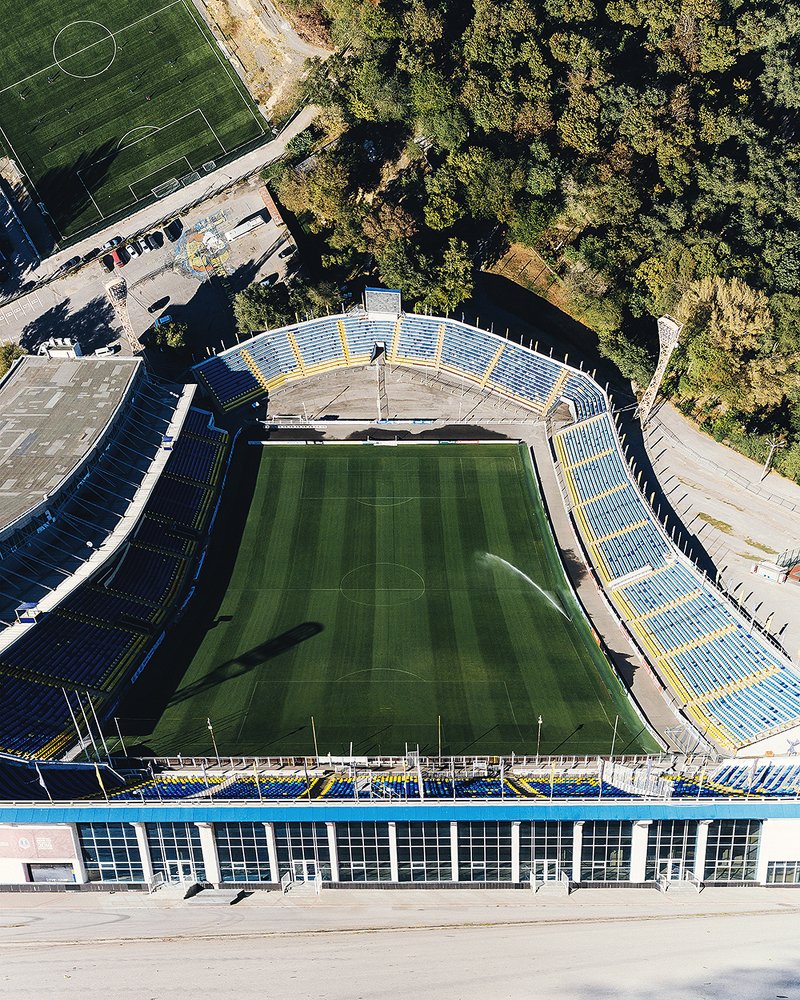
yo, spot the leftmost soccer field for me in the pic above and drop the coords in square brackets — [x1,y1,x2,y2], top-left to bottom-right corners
[0,0,279,253]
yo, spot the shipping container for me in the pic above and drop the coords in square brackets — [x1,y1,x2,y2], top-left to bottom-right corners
[254,180,287,226]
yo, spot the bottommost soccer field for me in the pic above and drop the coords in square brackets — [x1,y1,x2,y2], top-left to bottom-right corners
[97,449,661,755]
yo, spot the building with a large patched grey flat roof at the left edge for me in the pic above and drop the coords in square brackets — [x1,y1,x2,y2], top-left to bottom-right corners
[0,354,148,571]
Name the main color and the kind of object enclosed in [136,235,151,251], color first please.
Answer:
white car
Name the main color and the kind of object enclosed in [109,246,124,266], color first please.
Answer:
red car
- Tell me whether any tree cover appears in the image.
Yes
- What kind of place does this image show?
sports ground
